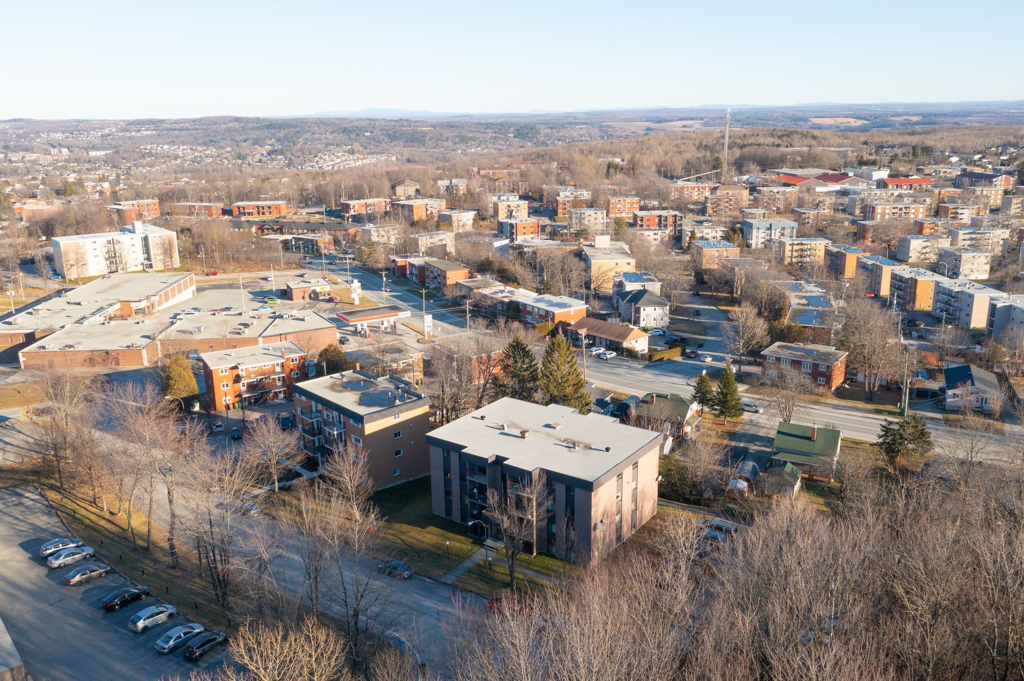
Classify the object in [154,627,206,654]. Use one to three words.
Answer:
car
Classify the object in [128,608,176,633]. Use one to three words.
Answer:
car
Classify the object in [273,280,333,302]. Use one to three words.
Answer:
building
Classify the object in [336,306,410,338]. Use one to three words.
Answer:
gas station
